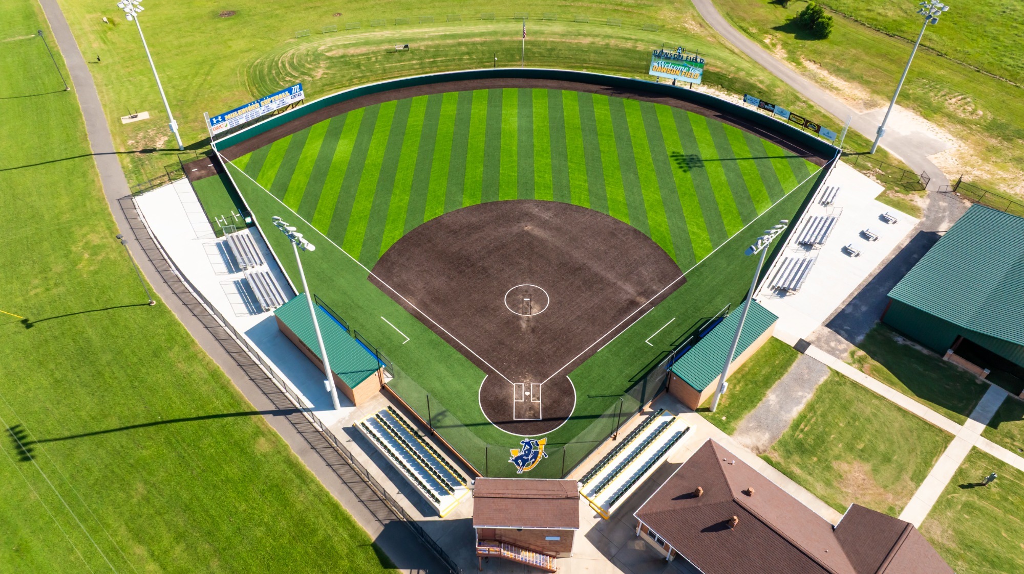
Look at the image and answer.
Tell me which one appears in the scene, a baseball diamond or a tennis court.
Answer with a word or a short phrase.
baseball diamond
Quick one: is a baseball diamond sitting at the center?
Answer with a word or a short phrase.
Yes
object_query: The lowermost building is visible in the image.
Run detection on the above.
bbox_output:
[631,437,961,574]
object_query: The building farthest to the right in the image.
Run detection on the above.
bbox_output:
[880,203,1024,404]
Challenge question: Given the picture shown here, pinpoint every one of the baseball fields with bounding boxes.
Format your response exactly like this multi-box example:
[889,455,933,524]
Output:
[218,78,836,478]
